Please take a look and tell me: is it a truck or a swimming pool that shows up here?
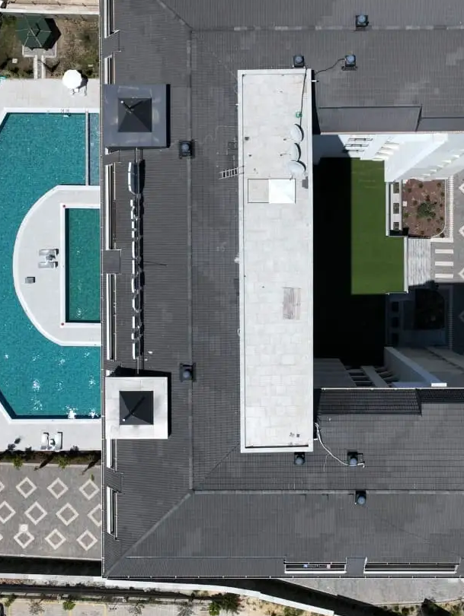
swimming pool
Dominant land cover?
buildings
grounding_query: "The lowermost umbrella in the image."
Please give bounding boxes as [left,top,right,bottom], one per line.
[62,69,83,89]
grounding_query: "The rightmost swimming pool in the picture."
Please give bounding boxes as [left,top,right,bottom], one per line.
[62,203,101,327]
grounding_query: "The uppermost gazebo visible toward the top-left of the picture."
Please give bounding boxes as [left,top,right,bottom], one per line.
[15,17,59,54]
